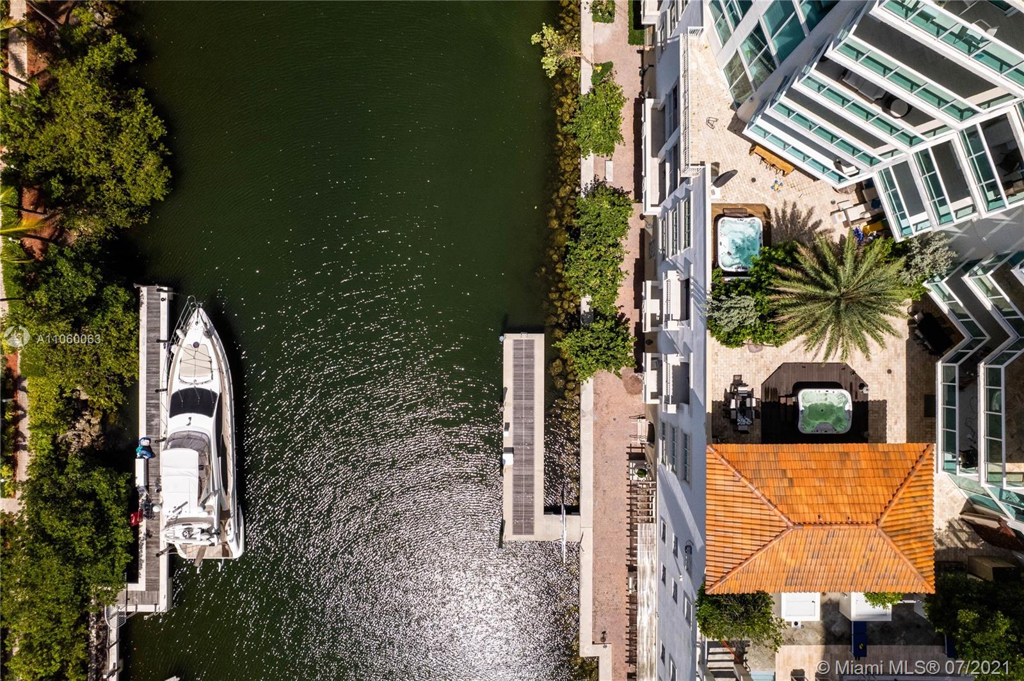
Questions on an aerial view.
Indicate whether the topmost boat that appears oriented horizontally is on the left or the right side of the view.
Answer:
left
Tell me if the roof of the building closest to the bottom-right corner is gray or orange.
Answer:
orange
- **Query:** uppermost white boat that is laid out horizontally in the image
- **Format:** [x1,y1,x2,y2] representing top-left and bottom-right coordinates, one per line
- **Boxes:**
[152,525,213,547]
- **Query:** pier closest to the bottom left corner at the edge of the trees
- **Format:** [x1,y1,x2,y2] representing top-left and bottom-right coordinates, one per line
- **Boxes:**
[118,284,178,616]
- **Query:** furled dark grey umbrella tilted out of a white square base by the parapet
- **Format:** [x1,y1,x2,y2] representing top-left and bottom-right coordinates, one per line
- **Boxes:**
[712,169,738,203]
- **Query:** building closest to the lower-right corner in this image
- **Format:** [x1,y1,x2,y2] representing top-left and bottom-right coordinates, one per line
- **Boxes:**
[703,442,939,597]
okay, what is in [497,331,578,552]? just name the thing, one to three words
pier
